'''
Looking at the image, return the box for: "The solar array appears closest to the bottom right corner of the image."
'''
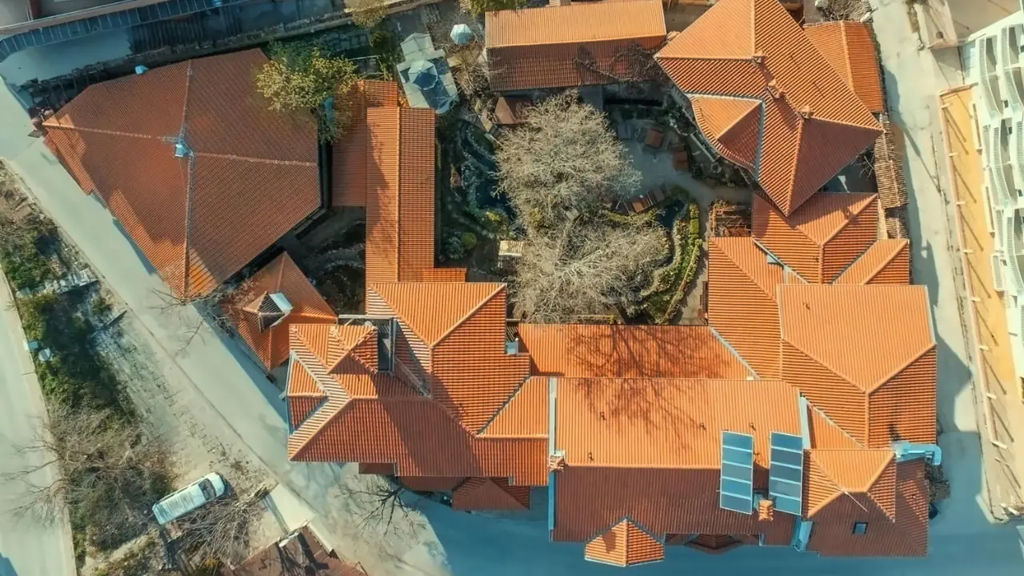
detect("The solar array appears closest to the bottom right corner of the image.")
[763,430,802,515]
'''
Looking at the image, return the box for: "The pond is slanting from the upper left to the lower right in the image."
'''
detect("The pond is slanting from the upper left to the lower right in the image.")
[463,132,518,214]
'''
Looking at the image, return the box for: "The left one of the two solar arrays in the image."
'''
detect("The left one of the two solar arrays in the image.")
[715,430,754,514]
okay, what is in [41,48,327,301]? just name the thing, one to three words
house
